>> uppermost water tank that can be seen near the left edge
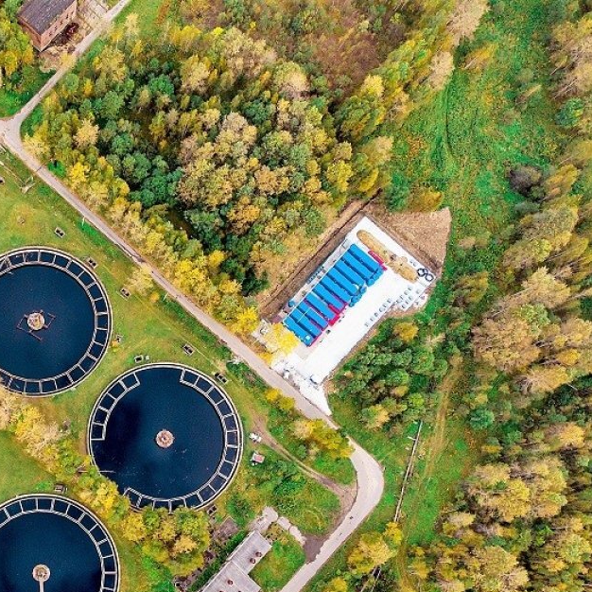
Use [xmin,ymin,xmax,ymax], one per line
[0,246,114,399]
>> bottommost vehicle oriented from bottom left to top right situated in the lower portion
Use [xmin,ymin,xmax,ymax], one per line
[306,369,325,387]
